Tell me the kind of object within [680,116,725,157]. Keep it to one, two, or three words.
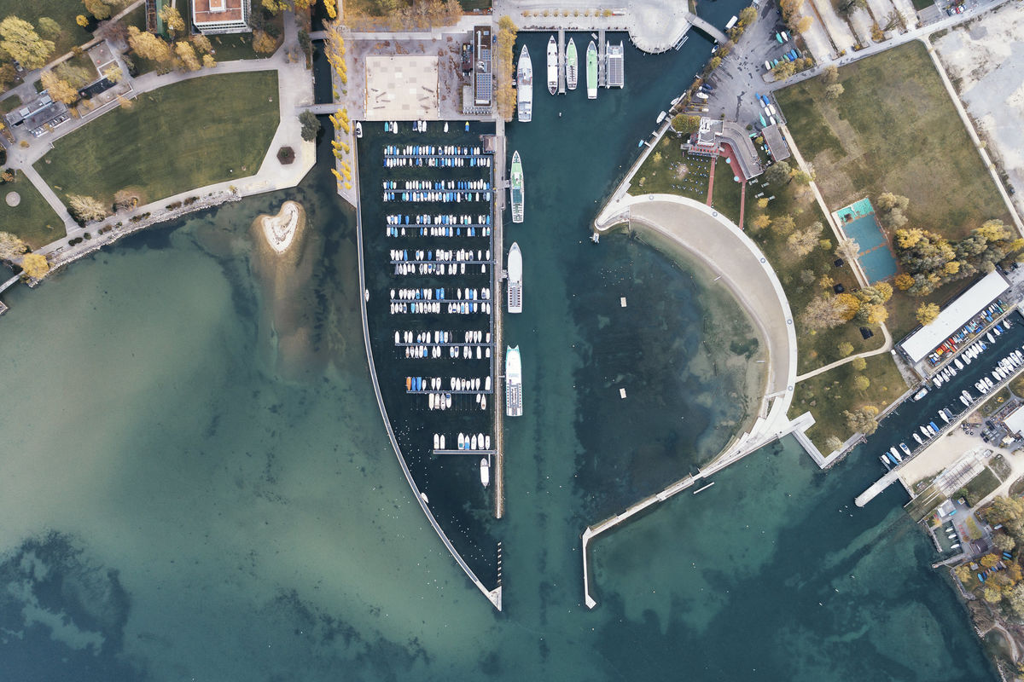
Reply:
house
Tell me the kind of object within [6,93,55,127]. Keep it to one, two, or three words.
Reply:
building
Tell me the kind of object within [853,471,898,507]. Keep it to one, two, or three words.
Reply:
pier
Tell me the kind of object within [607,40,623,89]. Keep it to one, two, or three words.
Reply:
ship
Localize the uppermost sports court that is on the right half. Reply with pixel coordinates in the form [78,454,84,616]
[836,197,900,284]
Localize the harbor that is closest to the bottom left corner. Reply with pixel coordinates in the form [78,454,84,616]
[355,120,511,612]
